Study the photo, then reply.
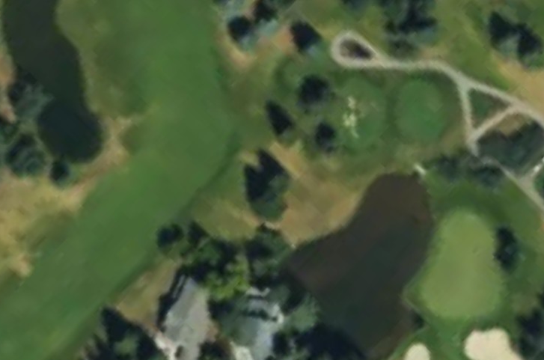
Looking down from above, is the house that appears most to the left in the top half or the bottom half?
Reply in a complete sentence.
The bottom half of the photo is where the house that appears most to the left is.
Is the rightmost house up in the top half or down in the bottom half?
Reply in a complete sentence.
Seen from above, the rightmost house lies in the bottom half of the view.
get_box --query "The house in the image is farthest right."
[230,292,282,360]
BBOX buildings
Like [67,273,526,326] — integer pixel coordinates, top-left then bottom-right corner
[158,272,211,352]
[230,292,282,360]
